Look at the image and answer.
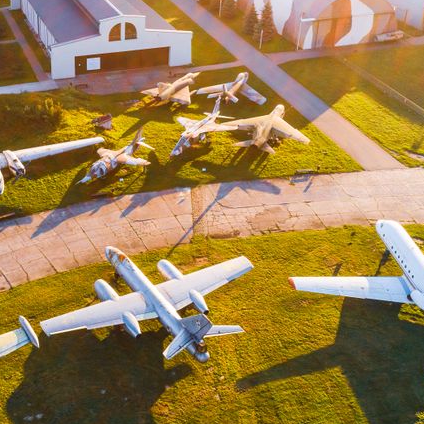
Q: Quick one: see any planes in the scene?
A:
Yes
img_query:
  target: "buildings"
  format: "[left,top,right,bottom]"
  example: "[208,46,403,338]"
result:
[13,0,195,79]
[236,0,415,50]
